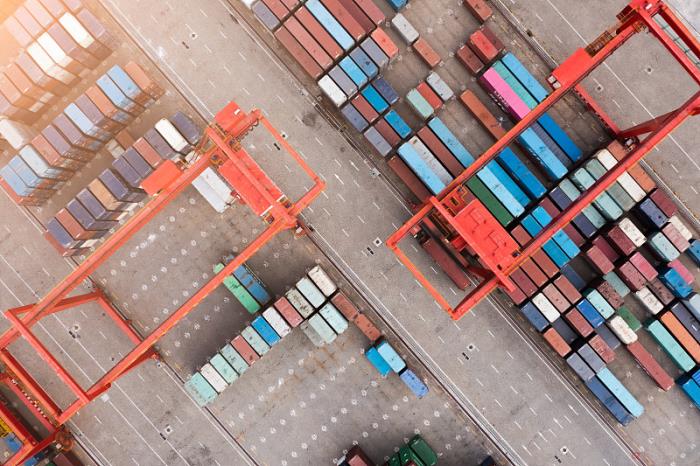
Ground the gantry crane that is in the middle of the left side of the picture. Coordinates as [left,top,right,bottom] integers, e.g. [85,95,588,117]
[0,101,329,426]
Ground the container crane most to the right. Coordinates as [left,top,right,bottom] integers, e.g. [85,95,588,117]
[388,0,700,320]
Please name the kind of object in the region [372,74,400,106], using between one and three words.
shipping container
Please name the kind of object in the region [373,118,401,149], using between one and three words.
shipping container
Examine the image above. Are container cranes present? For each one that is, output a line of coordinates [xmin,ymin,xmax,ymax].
[0,101,329,426]
[388,0,700,320]
[0,365,72,466]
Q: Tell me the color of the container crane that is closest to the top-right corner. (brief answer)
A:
red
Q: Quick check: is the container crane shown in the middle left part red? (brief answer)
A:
Yes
